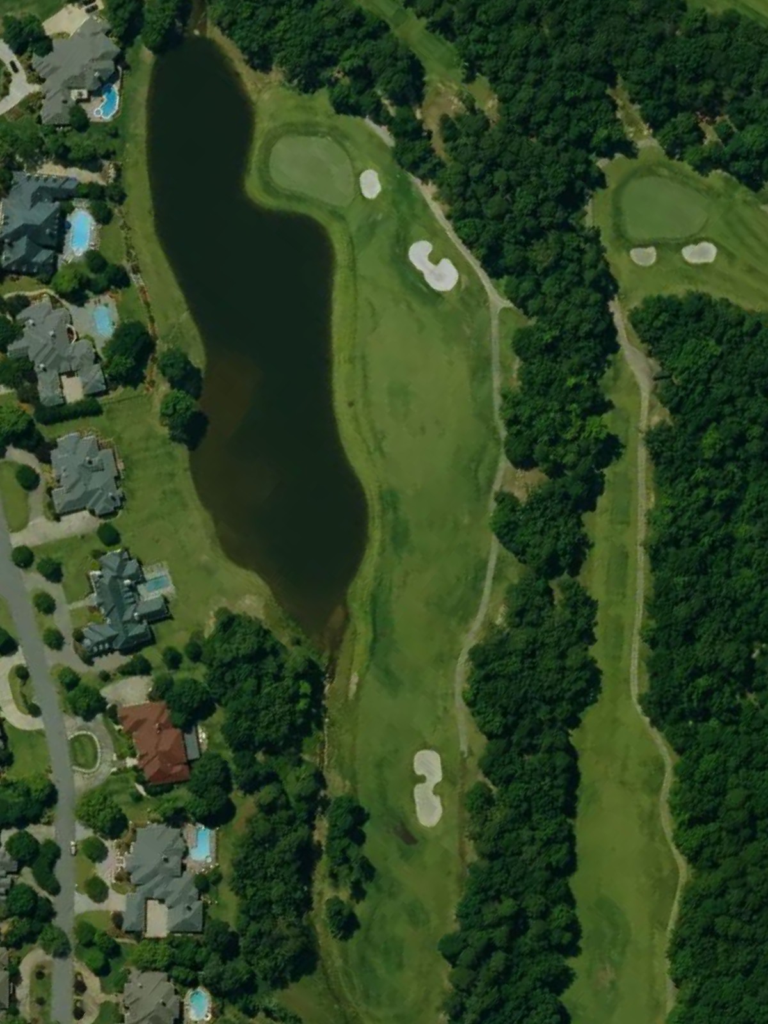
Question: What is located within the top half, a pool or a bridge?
pool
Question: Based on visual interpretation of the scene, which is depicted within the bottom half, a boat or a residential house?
residential house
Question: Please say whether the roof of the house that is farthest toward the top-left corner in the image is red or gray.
gray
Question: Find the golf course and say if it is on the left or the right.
right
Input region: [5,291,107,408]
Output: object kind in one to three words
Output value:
house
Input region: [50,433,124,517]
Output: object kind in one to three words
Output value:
house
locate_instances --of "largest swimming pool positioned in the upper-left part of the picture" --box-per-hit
[70,207,92,254]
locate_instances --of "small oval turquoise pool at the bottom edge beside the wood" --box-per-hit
[188,985,212,1021]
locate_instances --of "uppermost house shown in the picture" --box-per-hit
[29,11,123,124]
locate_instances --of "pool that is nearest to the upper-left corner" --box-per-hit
[94,85,119,118]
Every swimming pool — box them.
[70,207,92,254]
[94,85,119,118]
[145,575,170,593]
[190,827,212,863]
[188,985,212,1021]
[93,304,115,337]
